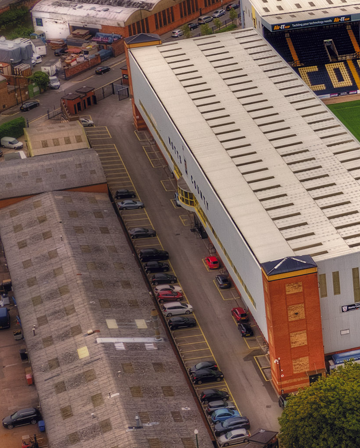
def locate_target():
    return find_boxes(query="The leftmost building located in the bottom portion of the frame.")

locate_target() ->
[0,181,213,448]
